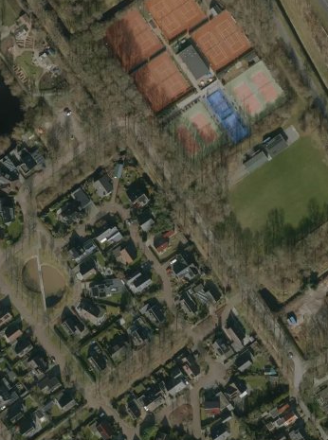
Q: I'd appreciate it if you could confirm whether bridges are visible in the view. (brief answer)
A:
No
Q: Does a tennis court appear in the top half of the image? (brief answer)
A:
Yes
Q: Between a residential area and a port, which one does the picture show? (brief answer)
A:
residential area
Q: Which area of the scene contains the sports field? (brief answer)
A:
right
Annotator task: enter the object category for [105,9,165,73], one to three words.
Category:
tennis court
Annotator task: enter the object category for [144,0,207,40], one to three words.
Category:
tennis court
